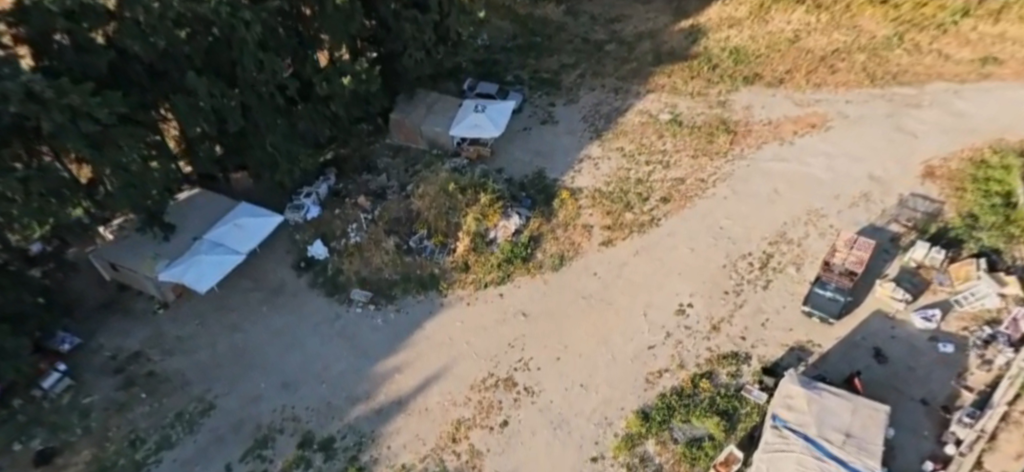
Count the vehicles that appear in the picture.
2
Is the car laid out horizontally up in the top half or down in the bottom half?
top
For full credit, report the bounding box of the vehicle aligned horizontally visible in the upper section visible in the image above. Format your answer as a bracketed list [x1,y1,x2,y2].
[458,79,530,116]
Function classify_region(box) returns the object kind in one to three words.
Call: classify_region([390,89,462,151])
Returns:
shed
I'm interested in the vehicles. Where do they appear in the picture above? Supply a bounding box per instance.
[800,227,871,320]
[458,79,530,116]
